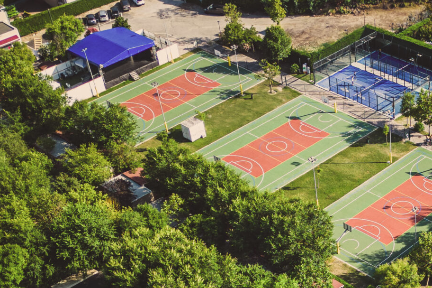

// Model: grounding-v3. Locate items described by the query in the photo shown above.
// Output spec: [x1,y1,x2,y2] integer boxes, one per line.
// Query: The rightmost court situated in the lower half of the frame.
[307,147,432,280]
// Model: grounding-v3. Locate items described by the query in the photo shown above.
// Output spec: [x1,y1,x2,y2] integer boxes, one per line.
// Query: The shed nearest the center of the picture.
[181,117,205,139]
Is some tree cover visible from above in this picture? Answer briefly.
Yes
